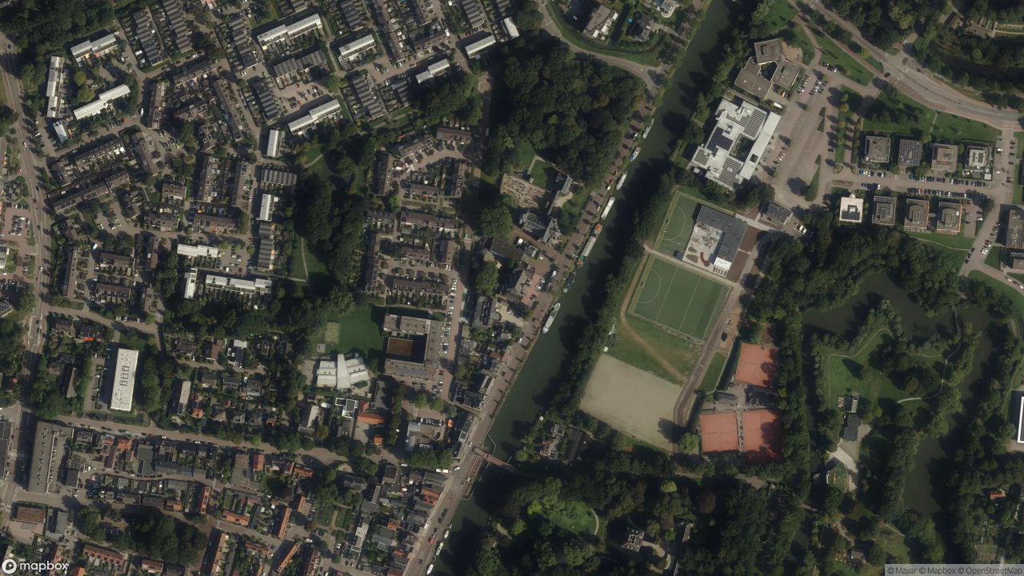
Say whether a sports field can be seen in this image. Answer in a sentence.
Yes, you can see a sports field in this photo.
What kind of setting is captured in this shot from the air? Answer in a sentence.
The picture captures a residential area.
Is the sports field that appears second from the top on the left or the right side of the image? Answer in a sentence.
You can find the sports field that appears second from the top on the right side of the picture.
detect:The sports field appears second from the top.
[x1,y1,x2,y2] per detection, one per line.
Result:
[628,254,730,345]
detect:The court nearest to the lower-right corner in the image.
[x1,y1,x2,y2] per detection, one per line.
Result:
[741,409,782,462]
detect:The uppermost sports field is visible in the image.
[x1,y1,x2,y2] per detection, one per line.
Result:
[654,190,736,268]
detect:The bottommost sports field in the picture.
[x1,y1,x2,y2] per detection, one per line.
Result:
[581,354,685,452]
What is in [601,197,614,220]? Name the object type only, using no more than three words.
boat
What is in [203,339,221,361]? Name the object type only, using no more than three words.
house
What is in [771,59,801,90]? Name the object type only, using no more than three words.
building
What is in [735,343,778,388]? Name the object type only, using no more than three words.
tennis court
